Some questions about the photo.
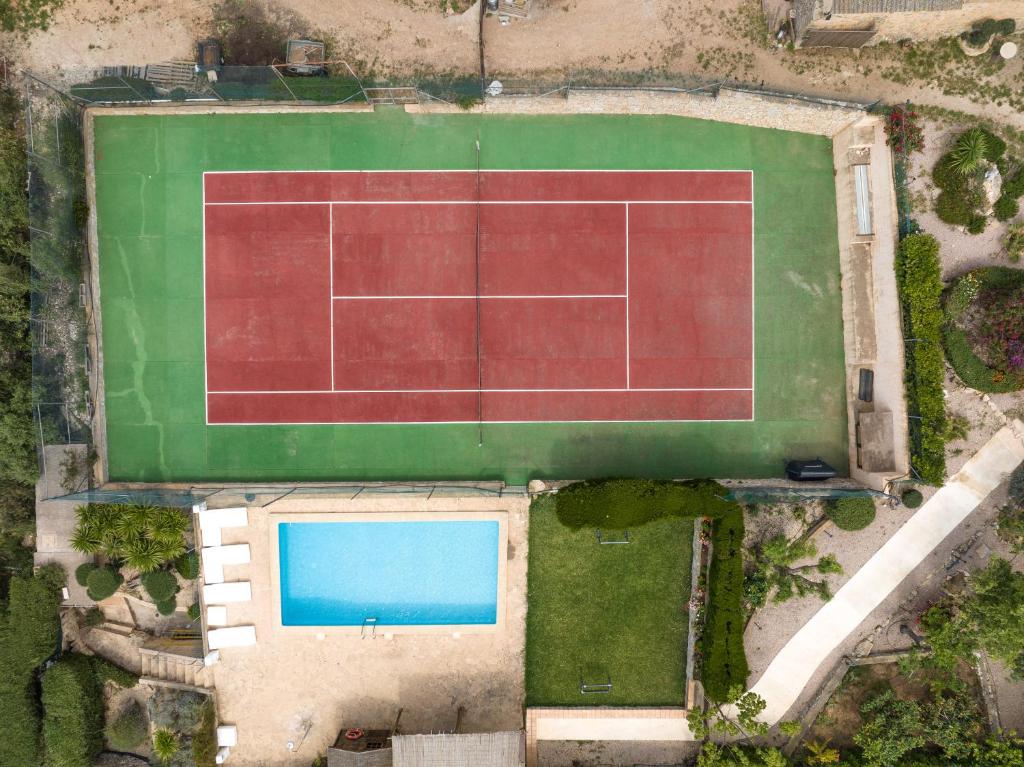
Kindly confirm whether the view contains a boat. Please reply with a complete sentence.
No, the frame has no boat in it.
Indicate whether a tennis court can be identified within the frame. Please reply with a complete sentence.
Yes, you can see a tennis court in this photo.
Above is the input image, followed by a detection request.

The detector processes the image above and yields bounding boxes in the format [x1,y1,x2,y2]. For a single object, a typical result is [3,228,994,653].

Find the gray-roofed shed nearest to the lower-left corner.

[327,729,392,767]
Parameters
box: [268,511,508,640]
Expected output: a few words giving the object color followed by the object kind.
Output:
blue swimming pool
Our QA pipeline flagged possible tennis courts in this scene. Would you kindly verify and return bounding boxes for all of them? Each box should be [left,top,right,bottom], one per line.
[93,103,850,488]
